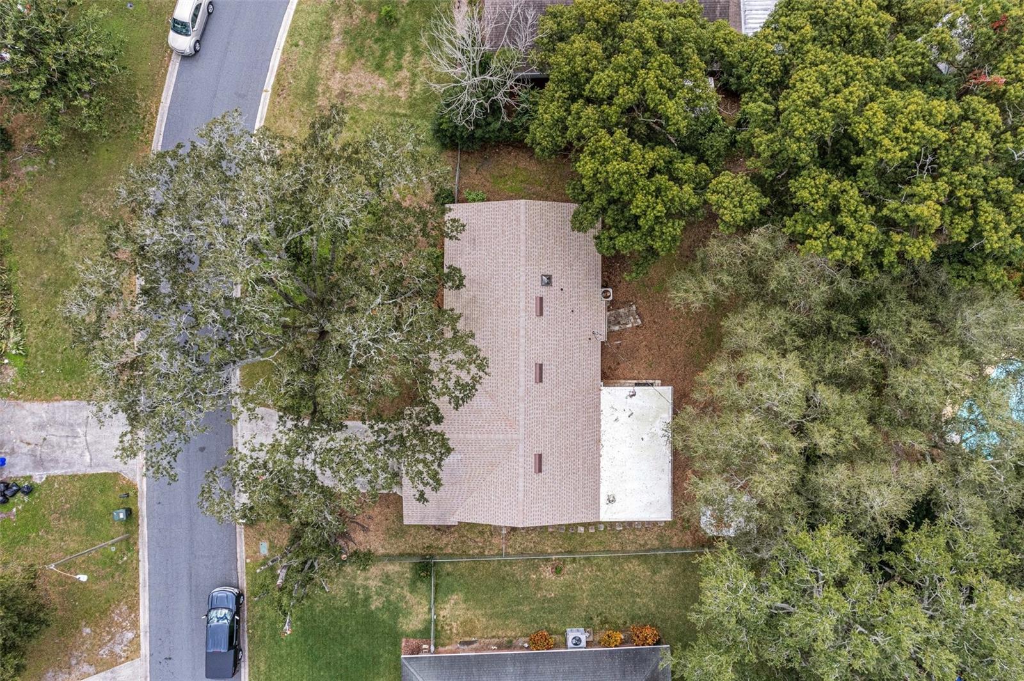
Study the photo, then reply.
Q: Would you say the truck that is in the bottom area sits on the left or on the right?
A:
left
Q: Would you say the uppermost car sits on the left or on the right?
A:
left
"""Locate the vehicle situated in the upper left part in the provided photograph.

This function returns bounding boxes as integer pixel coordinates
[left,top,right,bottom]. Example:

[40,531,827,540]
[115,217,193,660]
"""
[164,0,216,62]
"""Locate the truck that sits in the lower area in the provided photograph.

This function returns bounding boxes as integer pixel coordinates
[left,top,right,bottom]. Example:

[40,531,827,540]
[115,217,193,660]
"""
[202,586,244,680]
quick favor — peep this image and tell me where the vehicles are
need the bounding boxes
[202,586,244,680]
[164,0,216,62]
